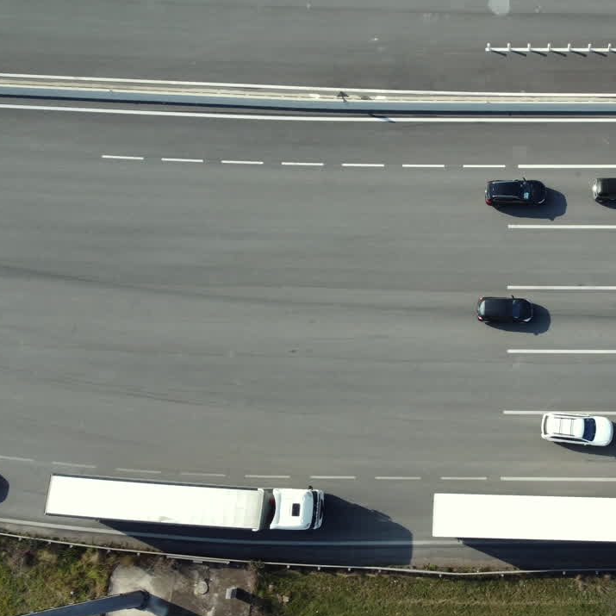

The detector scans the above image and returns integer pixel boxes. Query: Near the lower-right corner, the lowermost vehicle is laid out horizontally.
[431,493,616,543]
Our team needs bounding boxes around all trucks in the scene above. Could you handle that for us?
[44,474,327,535]
[431,493,616,543]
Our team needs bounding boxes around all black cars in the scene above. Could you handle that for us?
[477,294,534,325]
[592,179,616,206]
[484,176,546,208]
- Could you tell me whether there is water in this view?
No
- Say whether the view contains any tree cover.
No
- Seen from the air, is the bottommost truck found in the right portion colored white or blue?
white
